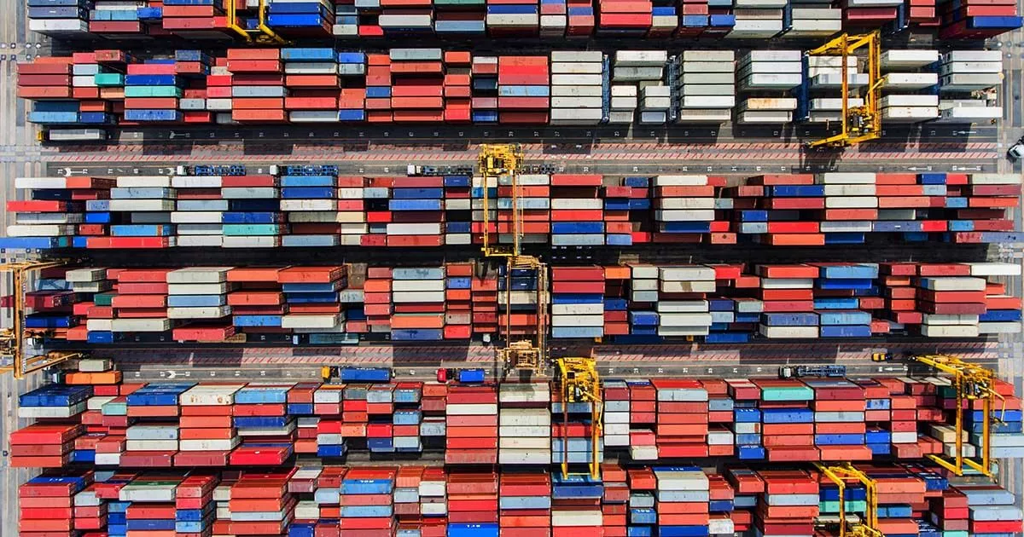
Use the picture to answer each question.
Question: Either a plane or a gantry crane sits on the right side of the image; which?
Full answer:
What appears on the right side of the image is a gantry crane.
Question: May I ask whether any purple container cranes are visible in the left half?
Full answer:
No, there is no purple container crane in the left half.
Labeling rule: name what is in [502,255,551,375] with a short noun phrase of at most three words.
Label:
container crane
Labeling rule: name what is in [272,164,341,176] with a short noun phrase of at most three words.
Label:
vehicle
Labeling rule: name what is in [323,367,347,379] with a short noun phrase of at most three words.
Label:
vehicle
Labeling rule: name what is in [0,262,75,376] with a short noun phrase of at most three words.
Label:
container crane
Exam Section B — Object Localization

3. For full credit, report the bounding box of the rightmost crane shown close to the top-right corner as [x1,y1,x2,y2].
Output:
[805,33,894,144]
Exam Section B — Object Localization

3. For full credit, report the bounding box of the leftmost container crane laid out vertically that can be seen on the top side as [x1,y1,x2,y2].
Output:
[477,138,524,258]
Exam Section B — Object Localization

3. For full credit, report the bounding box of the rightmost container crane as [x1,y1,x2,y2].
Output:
[907,352,1010,476]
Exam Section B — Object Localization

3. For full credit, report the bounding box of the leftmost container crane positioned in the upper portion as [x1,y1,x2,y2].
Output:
[222,0,293,46]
